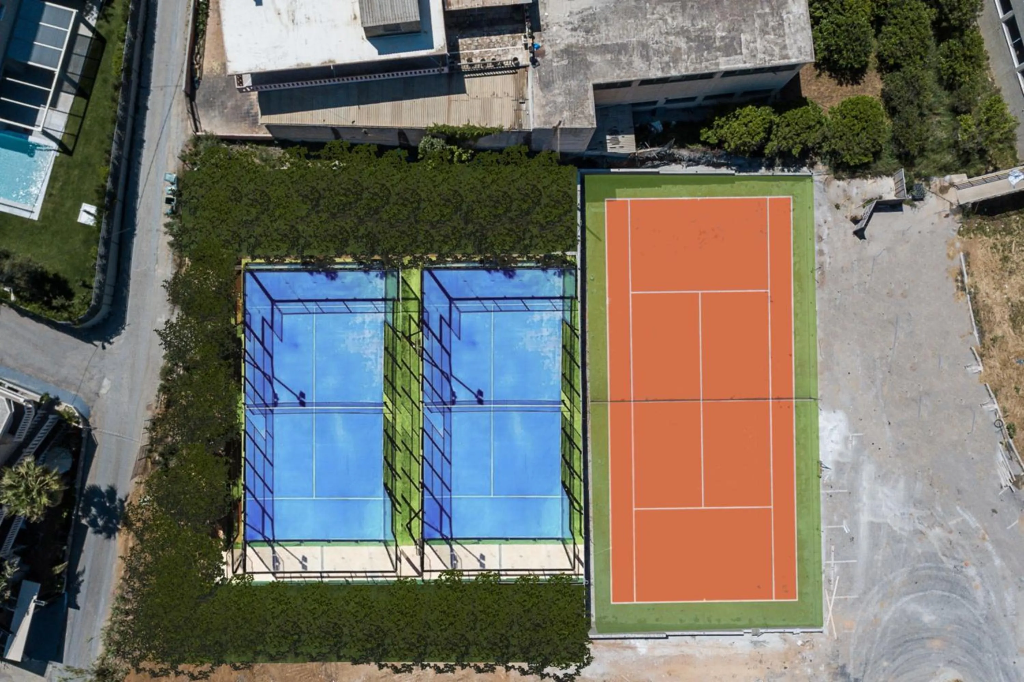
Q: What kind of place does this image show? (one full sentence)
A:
The area seen from above is a sports ground.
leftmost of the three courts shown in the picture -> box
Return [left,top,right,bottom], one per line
[246,270,398,547]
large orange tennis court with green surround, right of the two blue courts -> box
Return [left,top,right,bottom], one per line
[582,172,825,636]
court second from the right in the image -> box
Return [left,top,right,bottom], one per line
[425,269,574,545]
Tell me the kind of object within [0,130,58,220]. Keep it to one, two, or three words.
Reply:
swimming pool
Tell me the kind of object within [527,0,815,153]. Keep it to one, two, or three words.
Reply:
building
